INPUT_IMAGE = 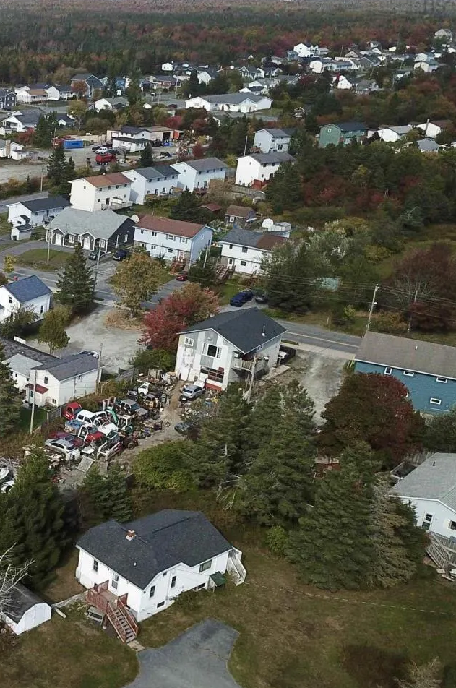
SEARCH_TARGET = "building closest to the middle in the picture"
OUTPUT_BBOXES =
[172,310,296,391]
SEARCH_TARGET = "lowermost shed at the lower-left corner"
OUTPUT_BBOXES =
[0,586,56,642]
